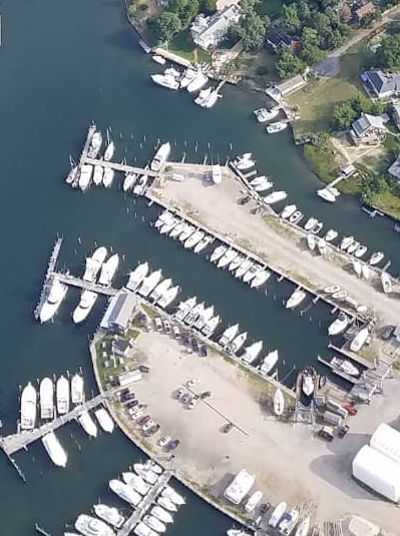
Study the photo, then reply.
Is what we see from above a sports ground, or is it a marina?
marina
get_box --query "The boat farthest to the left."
[16,378,36,432]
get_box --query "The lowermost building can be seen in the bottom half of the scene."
[351,444,400,502]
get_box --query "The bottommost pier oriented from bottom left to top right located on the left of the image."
[113,468,175,536]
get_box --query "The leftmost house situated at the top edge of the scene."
[182,4,243,57]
